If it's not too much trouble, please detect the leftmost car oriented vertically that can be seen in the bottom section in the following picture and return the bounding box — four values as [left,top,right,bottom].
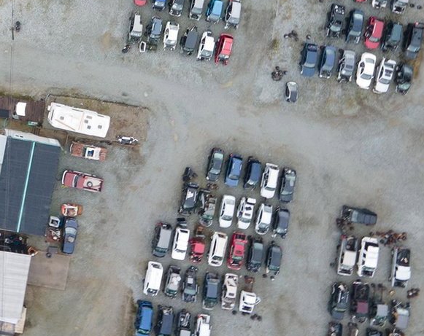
[62,215,80,254]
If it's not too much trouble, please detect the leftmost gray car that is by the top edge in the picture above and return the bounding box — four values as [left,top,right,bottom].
[125,10,145,40]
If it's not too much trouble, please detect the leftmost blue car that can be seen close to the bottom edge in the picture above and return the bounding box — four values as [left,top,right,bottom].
[133,297,154,336]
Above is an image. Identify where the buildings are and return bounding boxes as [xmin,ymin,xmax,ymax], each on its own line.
[0,129,60,236]
[0,244,31,325]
